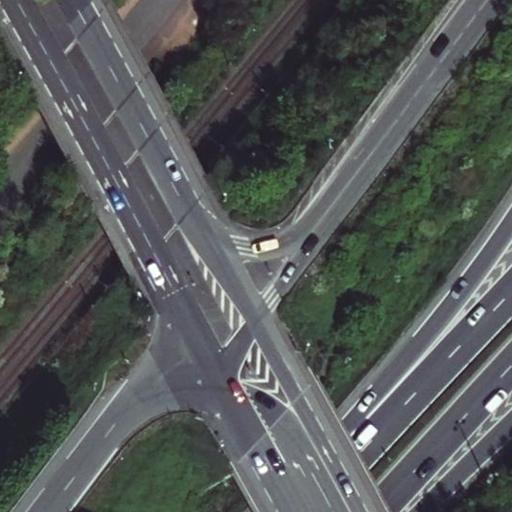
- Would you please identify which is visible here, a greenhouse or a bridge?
bridge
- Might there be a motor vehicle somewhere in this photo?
Yes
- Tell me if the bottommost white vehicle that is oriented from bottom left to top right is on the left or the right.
right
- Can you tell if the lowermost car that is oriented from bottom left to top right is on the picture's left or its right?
right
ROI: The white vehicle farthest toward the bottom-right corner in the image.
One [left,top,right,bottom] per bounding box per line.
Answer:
[486,390,508,412]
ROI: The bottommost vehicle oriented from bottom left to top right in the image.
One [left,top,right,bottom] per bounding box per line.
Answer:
[416,457,436,478]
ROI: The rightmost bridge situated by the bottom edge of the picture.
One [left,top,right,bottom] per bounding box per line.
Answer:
[201,308,388,512]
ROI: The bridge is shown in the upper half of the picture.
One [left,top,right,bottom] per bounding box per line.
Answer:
[0,0,222,292]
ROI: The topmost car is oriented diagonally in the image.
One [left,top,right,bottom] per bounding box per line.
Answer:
[430,35,449,56]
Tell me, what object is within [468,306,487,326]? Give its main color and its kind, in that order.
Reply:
white car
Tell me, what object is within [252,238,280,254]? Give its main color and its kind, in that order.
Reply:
white vehicle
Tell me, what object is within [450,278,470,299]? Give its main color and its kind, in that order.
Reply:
gray car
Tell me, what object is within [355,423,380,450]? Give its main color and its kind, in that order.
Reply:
white vehicle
